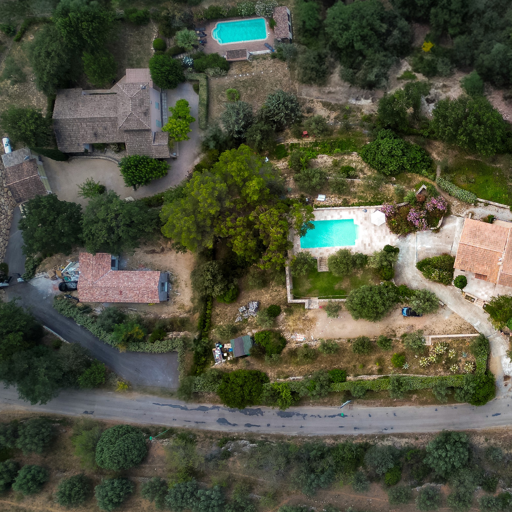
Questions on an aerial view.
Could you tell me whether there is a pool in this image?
Yes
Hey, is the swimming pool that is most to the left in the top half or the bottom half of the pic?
top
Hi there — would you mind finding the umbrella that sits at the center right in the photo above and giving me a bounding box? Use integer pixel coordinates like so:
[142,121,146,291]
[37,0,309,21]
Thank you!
[372,210,386,226]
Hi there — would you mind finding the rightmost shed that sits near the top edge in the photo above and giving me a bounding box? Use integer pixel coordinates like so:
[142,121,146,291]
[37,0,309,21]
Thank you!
[273,5,296,43]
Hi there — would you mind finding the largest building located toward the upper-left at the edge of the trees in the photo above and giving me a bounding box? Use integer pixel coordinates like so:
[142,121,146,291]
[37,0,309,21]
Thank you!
[52,68,172,160]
